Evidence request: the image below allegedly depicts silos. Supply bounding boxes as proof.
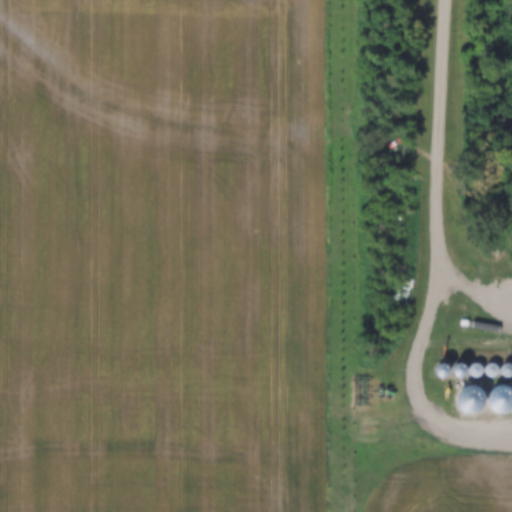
[488,384,512,417]
[485,362,502,379]
[435,363,452,382]
[469,362,486,379]
[501,362,512,379]
[457,385,488,418]
[452,363,470,382]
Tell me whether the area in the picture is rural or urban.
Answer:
rural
